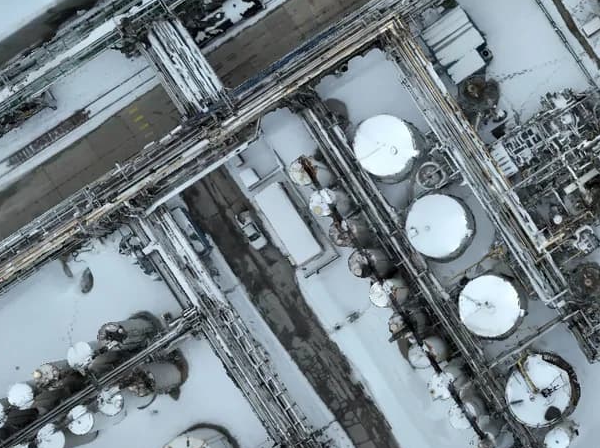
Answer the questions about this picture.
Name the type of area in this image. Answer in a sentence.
It's an industrial area.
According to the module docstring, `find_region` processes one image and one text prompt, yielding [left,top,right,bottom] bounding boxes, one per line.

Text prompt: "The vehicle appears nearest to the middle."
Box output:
[233,208,270,253]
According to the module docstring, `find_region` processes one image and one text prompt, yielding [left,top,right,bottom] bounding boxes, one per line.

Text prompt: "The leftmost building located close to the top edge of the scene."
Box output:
[423,7,490,88]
